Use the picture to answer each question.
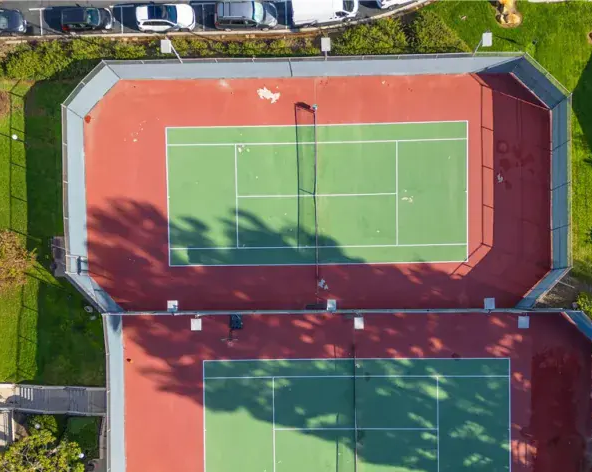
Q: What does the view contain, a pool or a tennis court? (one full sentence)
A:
There is a tennis court in the scene.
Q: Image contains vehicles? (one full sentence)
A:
Yes, you can see a vehicle in this photo.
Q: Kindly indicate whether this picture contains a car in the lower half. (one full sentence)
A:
No, looking in the lower half, there is no car.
